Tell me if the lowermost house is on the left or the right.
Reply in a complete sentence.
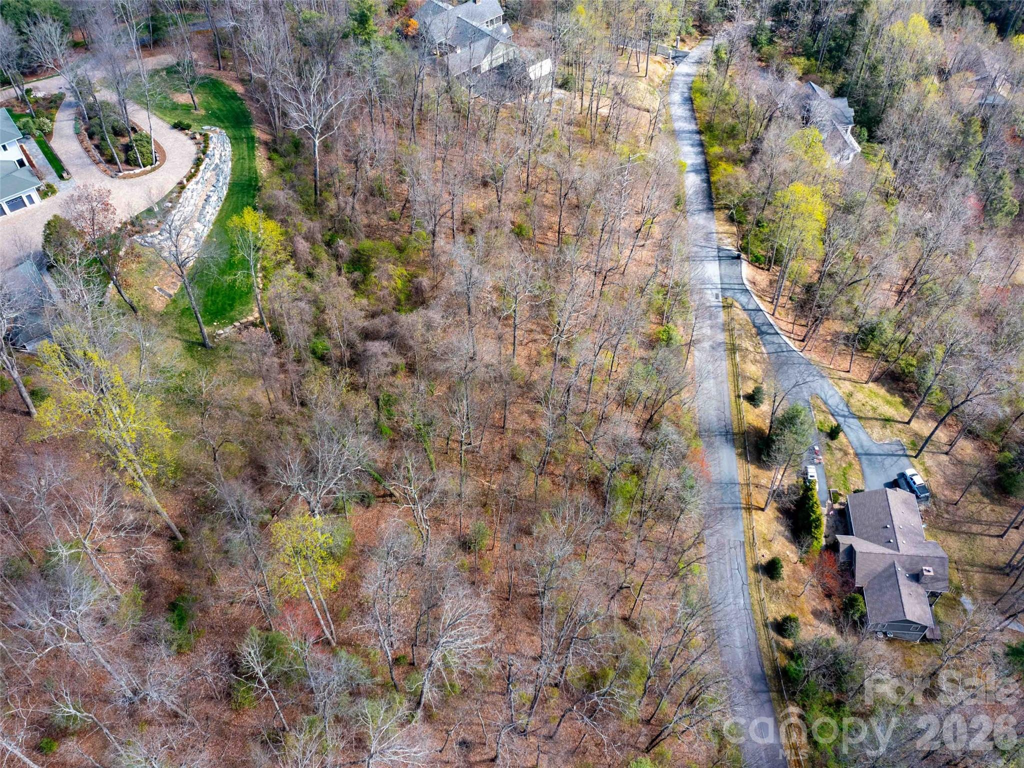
The lowermost house is on the right side of the image.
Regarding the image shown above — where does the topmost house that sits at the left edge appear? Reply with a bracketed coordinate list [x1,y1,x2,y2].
[0,123,44,216]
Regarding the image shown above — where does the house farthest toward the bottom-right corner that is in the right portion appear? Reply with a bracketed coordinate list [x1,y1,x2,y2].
[829,486,952,648]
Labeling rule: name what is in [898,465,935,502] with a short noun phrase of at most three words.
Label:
truck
